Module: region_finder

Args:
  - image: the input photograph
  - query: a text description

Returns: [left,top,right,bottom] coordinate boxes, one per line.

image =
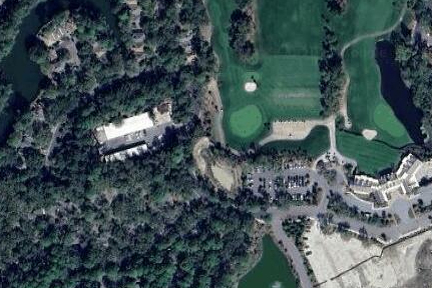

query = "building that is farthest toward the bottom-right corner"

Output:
[349,151,425,203]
